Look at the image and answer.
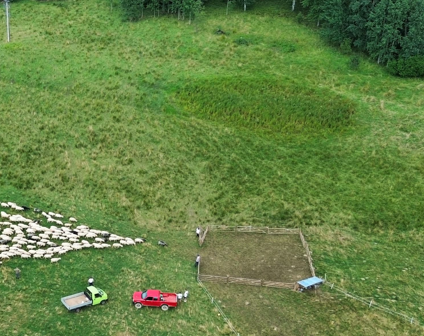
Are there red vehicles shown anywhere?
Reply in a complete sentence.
Yes, there's a red vehicle down there.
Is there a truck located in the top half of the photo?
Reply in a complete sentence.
No, there's no truck to be seen in the top half of the photo.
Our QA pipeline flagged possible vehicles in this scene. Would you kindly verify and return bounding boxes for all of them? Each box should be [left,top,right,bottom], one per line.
[58,286,108,312]
[130,289,176,311]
